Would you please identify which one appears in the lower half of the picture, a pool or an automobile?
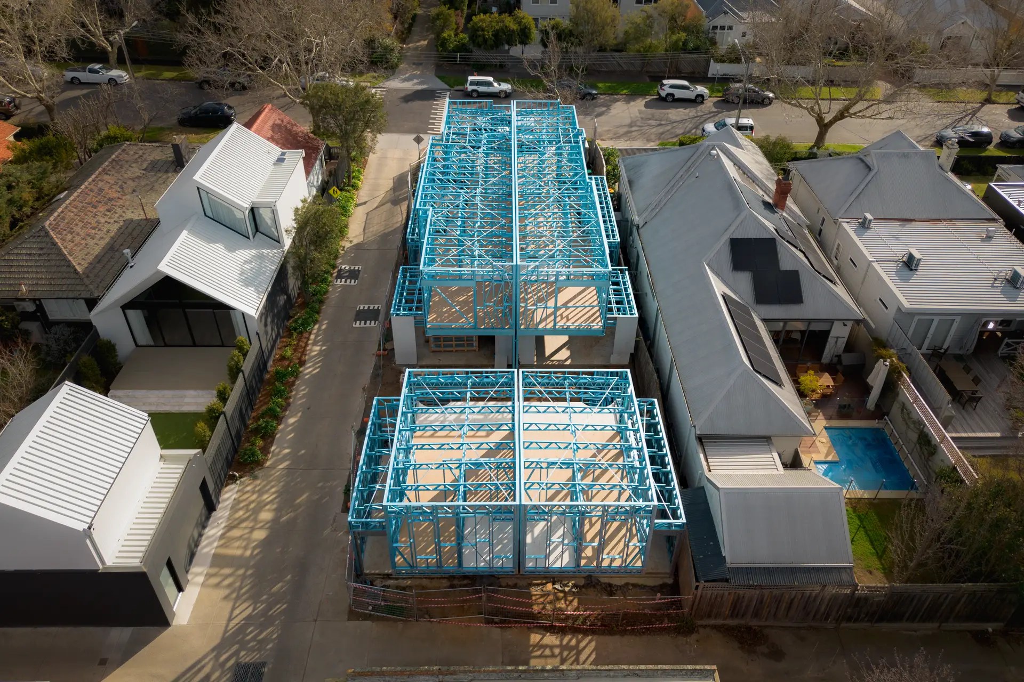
pool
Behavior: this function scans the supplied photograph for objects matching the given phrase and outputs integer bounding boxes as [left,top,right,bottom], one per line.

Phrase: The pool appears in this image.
[808,420,927,497]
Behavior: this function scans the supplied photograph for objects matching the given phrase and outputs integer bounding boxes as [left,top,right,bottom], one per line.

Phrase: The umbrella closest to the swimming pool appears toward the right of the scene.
[864,364,890,417]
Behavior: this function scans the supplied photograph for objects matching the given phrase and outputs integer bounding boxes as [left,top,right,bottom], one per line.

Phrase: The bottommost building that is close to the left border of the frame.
[0,379,218,626]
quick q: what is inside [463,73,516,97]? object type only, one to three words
car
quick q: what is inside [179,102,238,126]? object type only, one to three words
car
